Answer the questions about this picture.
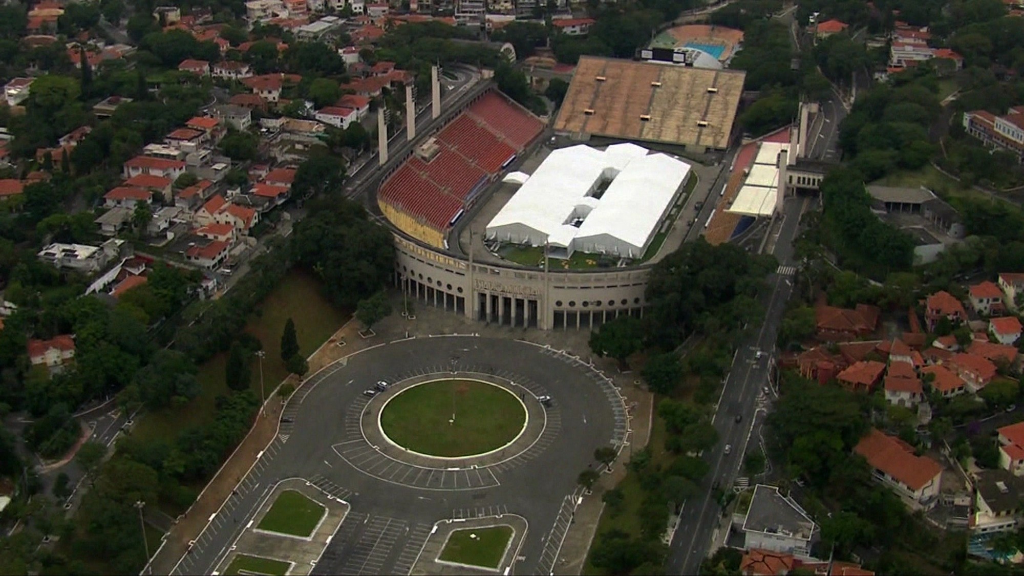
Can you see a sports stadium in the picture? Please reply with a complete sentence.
Yes, the image includes a sports stadium.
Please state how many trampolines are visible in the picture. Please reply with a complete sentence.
No trampolines are visible.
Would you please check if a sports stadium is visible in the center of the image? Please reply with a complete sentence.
Yes, a sports stadium appears in the center of the image.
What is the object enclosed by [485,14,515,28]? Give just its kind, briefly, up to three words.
house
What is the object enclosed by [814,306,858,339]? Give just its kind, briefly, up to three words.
house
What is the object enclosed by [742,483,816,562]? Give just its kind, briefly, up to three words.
building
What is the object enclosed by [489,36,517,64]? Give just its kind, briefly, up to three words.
building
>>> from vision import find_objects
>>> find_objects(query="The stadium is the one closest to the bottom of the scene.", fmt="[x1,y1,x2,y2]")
[378,198,734,332]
